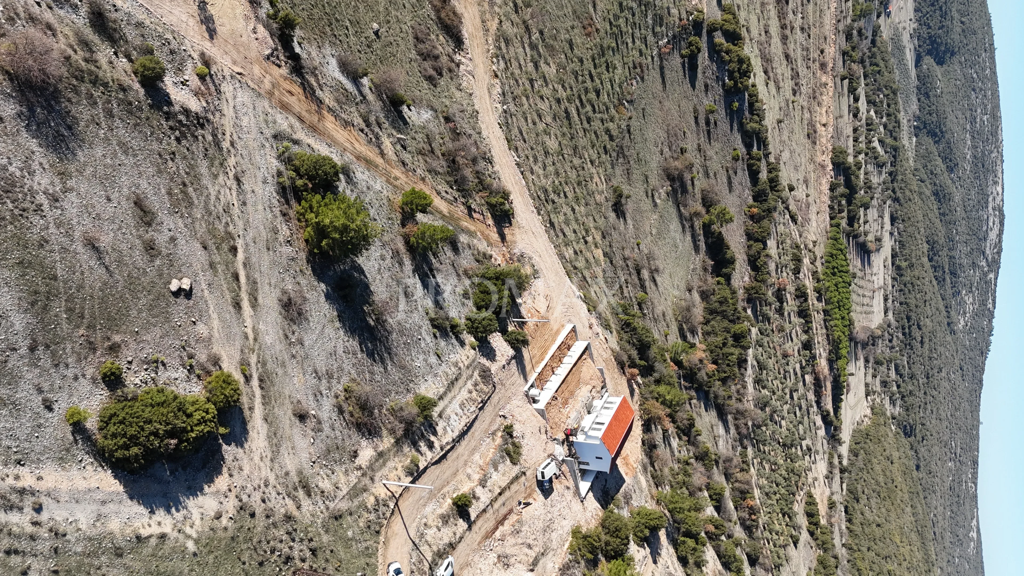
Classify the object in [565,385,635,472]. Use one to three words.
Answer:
house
